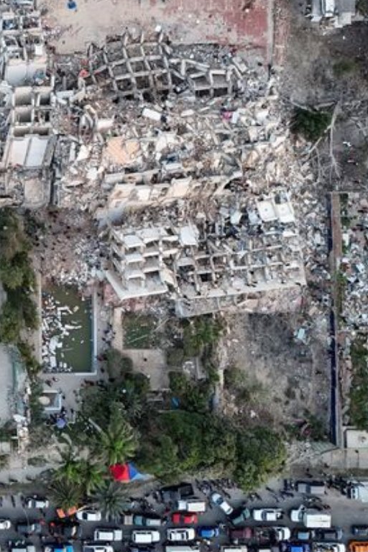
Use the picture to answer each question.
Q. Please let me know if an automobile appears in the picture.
Yes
